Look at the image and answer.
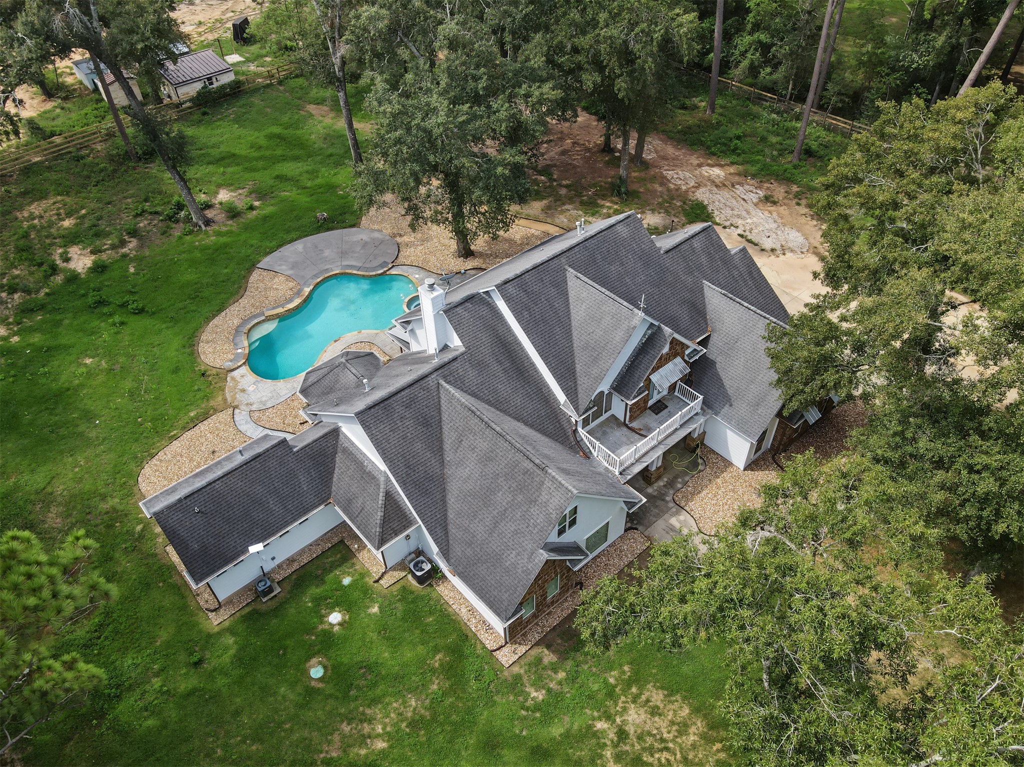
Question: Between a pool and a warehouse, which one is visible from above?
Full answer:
This aerial view contains a pool.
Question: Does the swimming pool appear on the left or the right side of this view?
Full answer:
The swimming pool appears in the left half of the scene.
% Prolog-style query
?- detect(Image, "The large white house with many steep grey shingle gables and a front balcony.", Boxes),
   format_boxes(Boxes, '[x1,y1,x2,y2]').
[136,209,844,652]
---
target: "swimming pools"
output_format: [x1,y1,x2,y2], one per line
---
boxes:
[225,262,419,393]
